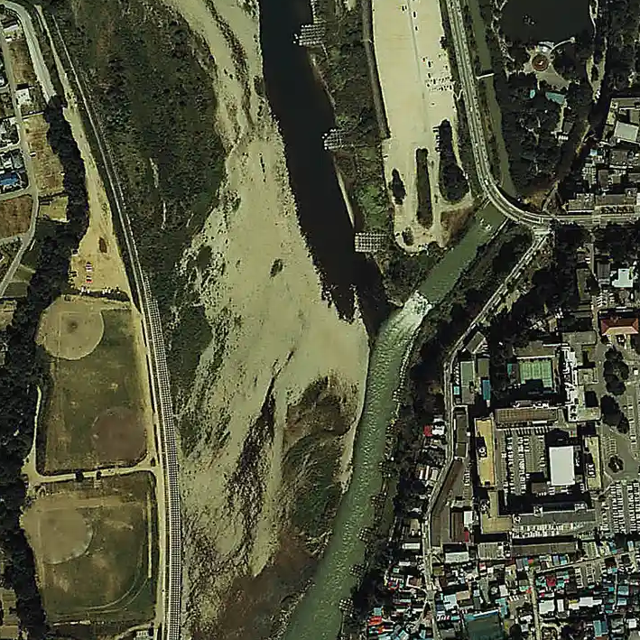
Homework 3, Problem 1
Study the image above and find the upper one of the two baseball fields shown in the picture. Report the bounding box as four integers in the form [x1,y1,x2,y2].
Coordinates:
[36,295,147,471]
